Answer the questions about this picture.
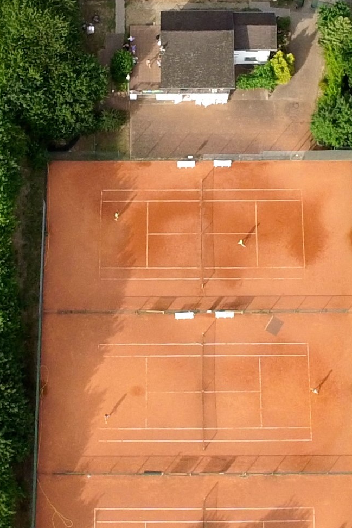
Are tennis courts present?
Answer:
Yes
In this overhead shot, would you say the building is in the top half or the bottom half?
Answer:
top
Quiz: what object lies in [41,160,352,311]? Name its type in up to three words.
tennis court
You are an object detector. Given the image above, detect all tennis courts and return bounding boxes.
[34,473,352,528]
[41,160,352,311]
[35,309,352,475]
